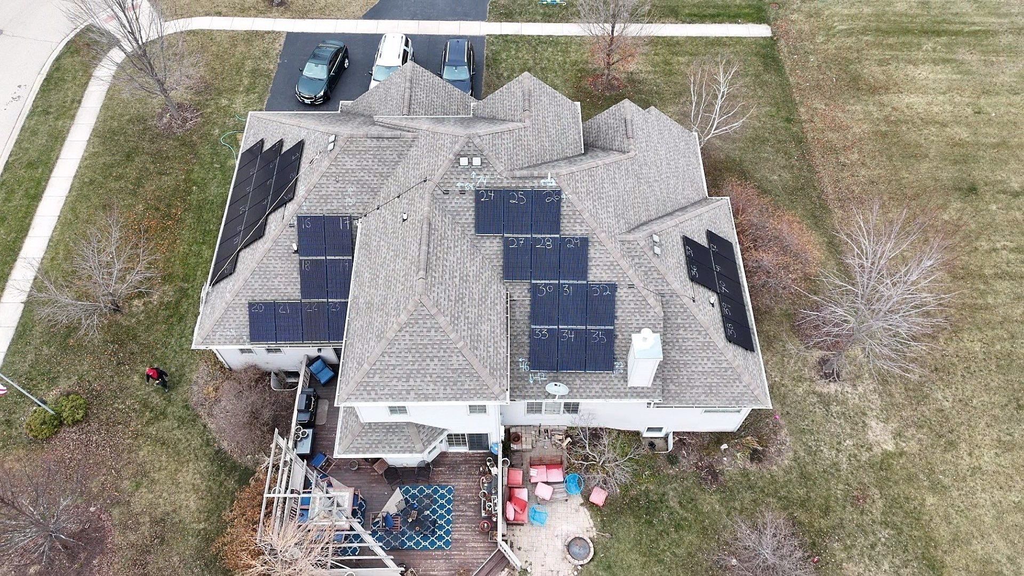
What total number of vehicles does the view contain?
3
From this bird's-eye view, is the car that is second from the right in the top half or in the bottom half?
top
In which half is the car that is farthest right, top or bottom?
top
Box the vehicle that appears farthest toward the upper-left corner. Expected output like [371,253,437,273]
[293,35,349,106]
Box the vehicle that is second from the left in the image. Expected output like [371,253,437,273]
[366,26,412,85]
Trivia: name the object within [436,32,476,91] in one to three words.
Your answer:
car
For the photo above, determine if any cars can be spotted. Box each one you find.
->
[366,26,412,85]
[436,32,476,91]
[293,35,349,106]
